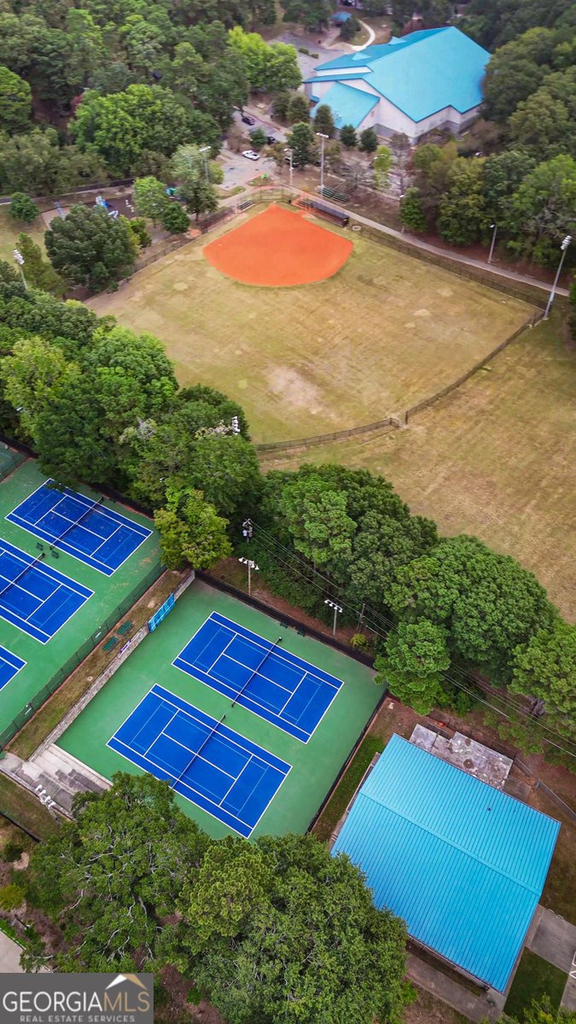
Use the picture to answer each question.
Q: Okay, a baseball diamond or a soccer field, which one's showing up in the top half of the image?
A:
baseball diamond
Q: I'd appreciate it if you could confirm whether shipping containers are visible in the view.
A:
No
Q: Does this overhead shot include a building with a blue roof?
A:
Yes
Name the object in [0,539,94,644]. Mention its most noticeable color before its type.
blue tennis court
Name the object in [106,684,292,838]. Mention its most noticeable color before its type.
blue tennis court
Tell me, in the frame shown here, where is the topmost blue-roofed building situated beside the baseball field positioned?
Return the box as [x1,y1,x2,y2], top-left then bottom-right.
[305,28,513,140]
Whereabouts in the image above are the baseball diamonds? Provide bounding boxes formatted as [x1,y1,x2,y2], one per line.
[94,194,543,449]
